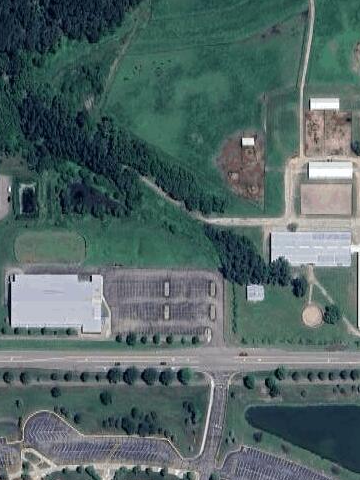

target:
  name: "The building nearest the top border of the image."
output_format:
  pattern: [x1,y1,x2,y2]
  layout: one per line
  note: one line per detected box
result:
[310,99,340,112]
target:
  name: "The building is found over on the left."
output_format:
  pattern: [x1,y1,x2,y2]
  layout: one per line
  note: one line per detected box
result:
[11,274,104,336]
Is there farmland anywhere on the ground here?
Yes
